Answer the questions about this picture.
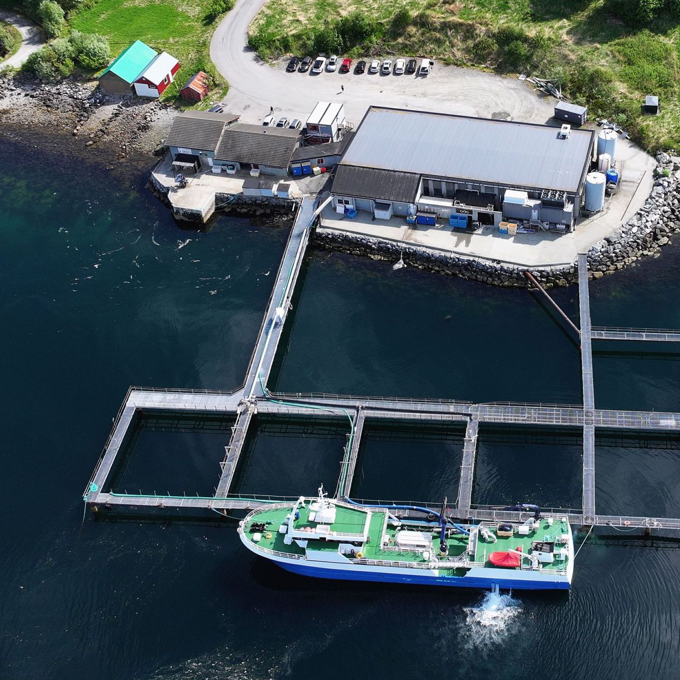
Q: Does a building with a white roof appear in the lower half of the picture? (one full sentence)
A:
No, no building with a white roof is visible in the lower half of the picture.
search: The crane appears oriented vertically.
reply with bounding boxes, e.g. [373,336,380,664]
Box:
[436,497,449,562]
